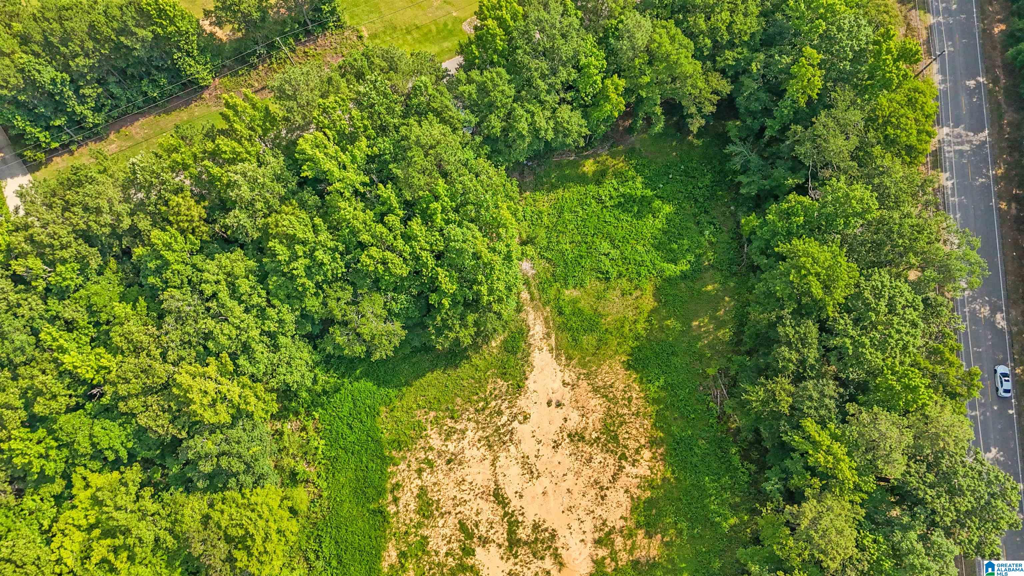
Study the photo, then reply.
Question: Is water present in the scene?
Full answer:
No, water can't be seen anywhere here.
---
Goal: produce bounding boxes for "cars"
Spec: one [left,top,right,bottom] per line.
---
[992,365,1010,398]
